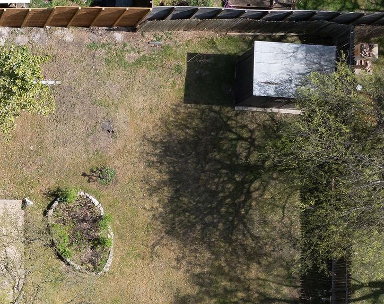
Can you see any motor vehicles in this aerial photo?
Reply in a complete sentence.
No, the scene contains no motor vehicle.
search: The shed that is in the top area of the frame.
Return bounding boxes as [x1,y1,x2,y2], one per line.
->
[229,41,335,114]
